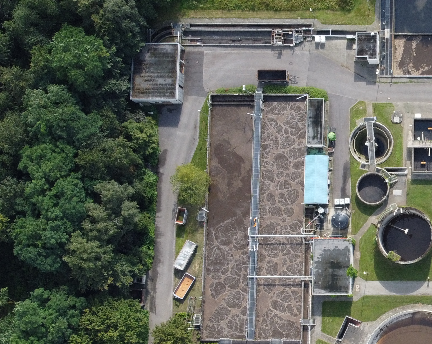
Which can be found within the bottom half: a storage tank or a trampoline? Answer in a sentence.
You can see a storage tank within the bottom half.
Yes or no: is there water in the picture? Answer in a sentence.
Yes, water shows up in the scene.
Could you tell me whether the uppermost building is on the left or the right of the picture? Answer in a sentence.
The uppermost building is on the right side of the image.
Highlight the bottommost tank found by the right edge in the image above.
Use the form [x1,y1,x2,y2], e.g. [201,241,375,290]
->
[376,206,432,266]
